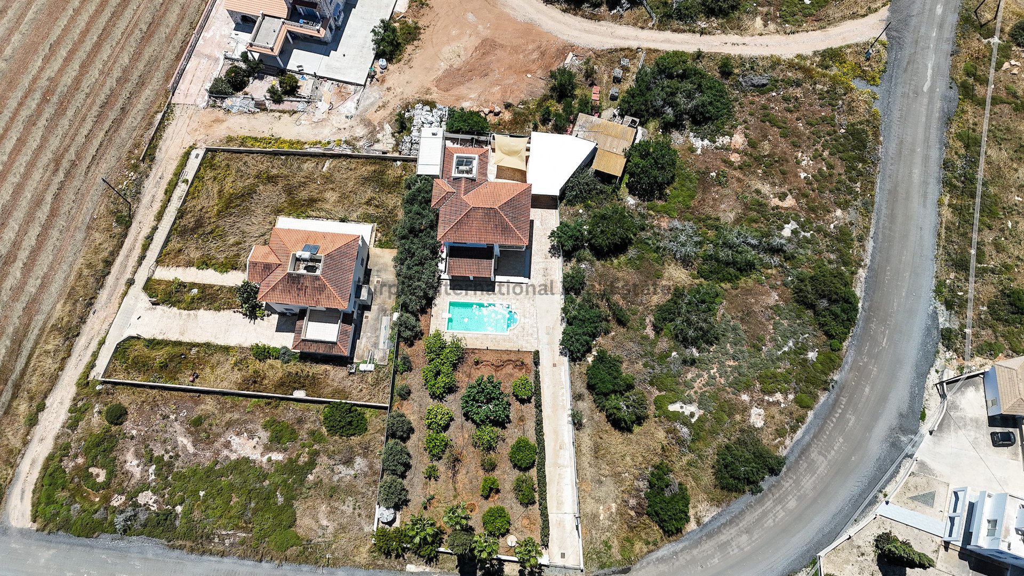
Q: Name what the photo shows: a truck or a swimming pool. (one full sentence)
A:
This aerial view contains a swimming pool.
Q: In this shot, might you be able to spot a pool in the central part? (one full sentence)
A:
Yes, you'll find a pool in the central part.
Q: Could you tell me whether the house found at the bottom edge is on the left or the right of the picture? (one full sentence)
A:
The house found at the bottom edge appears in the right half of the scene.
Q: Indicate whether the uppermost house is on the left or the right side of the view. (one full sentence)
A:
It is on the left.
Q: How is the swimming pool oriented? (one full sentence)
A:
The swimming pool is laid out from left to right.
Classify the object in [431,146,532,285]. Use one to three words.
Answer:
building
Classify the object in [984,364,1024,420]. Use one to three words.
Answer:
house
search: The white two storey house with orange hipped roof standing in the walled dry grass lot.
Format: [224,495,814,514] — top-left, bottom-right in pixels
[245,216,378,357]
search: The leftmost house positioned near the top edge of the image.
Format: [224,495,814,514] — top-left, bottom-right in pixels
[223,0,351,69]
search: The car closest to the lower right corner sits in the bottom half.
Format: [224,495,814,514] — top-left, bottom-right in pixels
[988,431,1017,446]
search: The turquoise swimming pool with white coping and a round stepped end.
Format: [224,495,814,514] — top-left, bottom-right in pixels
[442,301,520,334]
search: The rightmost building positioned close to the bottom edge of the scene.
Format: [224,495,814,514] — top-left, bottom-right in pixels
[962,491,1024,571]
